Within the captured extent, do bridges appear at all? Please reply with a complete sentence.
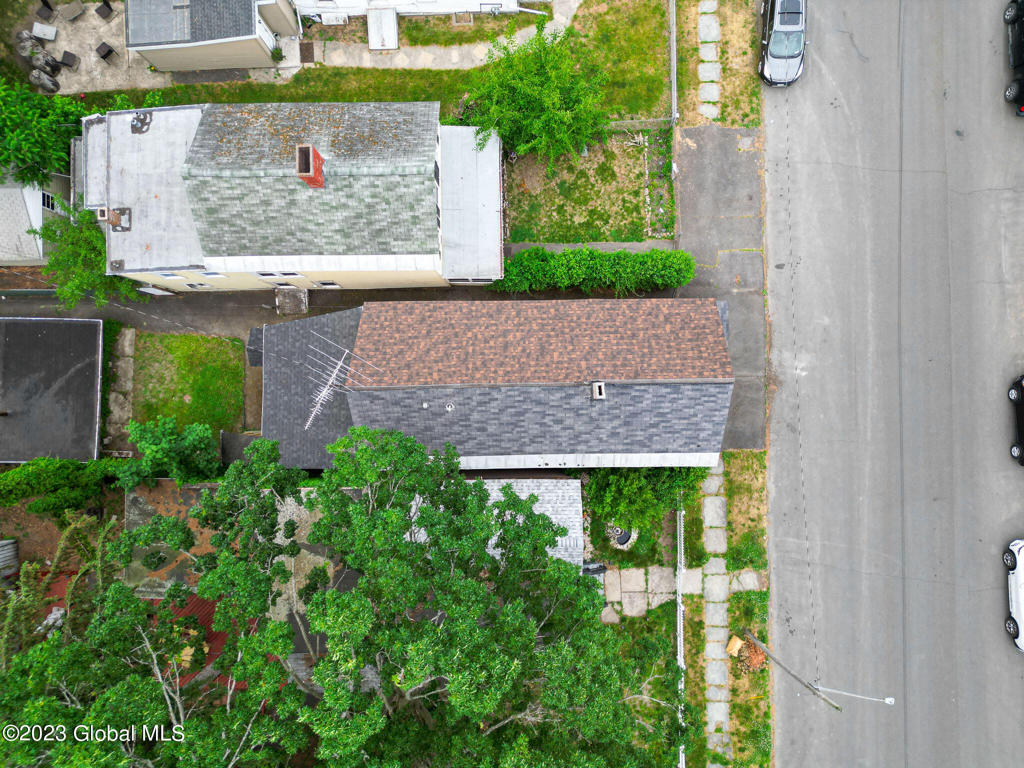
No, there isn't any bridge down there.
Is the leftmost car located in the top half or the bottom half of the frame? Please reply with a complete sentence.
Seen from above, the leftmost car lies in the top half of the view.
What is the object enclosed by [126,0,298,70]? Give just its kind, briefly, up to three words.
building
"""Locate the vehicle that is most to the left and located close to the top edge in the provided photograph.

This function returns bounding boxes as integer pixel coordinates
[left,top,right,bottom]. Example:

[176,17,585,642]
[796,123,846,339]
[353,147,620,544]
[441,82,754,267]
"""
[754,0,815,89]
